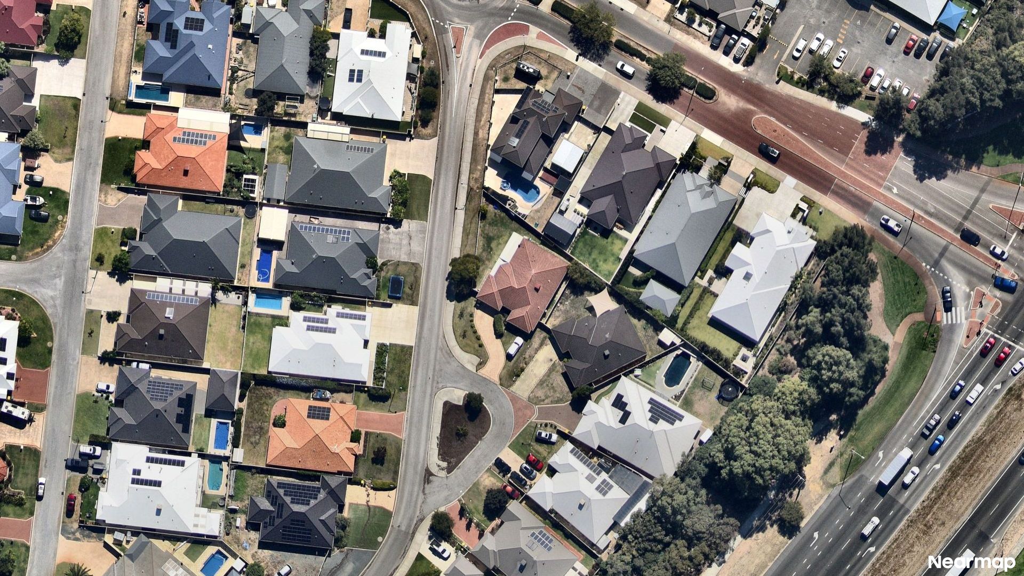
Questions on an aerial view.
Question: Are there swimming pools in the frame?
Yes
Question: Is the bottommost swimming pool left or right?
left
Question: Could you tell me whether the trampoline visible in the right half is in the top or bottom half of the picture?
bottom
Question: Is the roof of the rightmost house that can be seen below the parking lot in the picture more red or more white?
white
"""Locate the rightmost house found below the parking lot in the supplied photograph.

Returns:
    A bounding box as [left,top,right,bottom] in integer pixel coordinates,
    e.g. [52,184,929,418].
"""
[710,212,817,342]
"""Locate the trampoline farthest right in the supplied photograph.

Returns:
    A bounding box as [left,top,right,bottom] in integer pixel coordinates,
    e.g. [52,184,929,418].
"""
[720,380,740,400]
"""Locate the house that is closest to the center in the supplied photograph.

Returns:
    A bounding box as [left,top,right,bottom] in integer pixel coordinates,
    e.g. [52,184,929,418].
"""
[476,235,570,334]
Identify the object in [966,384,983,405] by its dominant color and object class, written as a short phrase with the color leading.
white vehicle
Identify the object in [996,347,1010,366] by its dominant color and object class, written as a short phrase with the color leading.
red car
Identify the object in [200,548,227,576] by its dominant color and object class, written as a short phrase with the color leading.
blue swimming pool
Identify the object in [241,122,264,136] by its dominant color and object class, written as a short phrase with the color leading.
blue swimming pool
